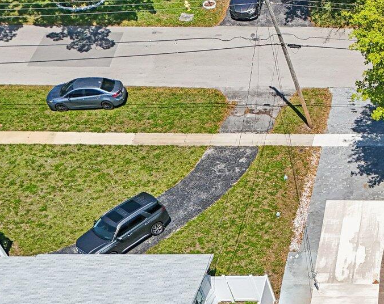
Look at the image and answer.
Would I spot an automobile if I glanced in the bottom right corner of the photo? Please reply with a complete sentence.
No, there is no automobile in the bottom right corner of the photo.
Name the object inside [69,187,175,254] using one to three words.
car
